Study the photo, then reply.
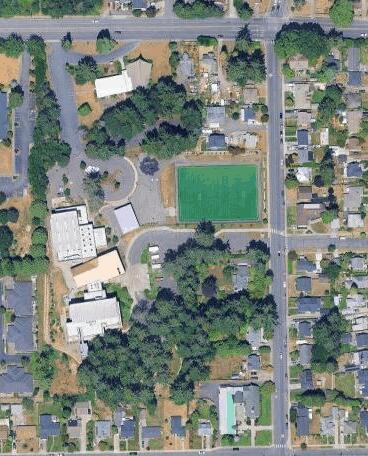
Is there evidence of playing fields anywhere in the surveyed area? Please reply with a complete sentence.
Yes, a playing field can be made out from above.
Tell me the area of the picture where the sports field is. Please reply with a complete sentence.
The sports field is located in the center region of the scene.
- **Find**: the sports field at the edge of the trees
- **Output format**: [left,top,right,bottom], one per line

[177,163,261,224]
